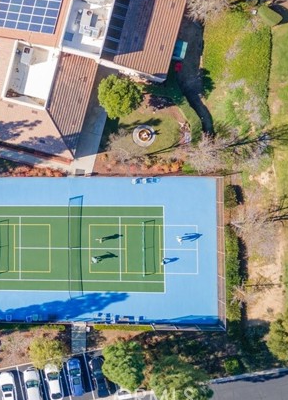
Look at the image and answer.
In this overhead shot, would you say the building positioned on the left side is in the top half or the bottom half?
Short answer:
top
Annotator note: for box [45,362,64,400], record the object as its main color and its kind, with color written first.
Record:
white car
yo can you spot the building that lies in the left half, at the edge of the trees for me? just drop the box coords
[0,0,188,167]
